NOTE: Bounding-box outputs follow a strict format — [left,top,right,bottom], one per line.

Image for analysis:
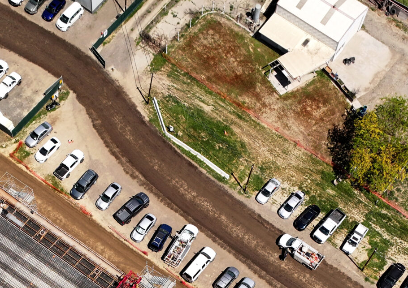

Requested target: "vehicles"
[164,224,196,269]
[26,121,53,149]
[237,277,254,288]
[0,61,9,78]
[57,0,84,34]
[341,222,371,257]
[148,223,171,253]
[312,205,346,245]
[342,57,355,64]
[131,213,157,243]
[0,72,22,102]
[256,176,281,206]
[43,0,67,22]
[277,236,327,271]
[25,0,48,16]
[46,100,59,110]
[96,183,121,212]
[53,150,85,183]
[71,168,99,202]
[278,189,306,220]
[36,137,62,165]
[295,202,319,233]
[378,261,406,288]
[117,195,149,226]
[213,266,239,288]
[180,247,214,285]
